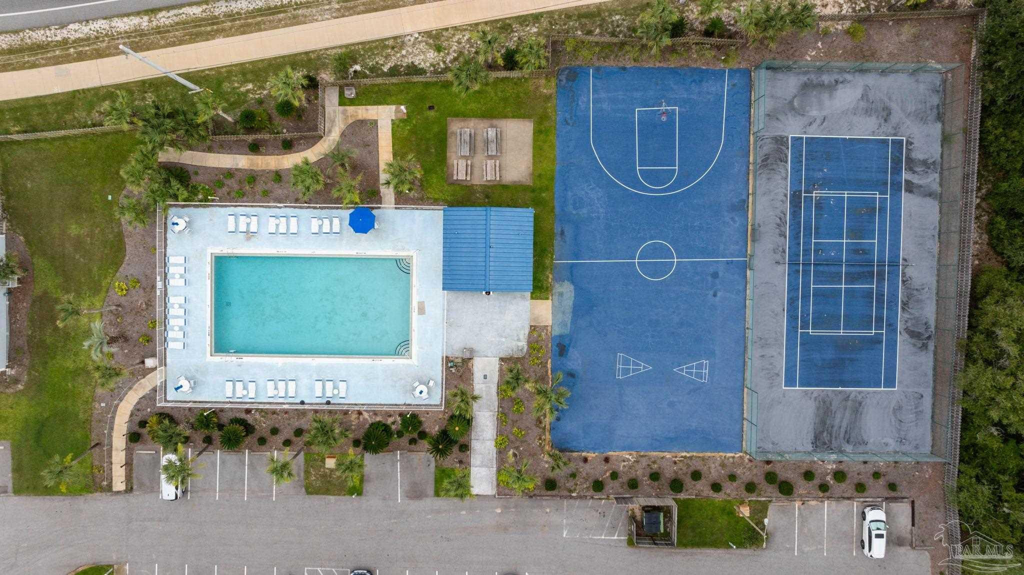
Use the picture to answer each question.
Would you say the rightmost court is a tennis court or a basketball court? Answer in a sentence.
I'd identify the rightmost court as a tennis court.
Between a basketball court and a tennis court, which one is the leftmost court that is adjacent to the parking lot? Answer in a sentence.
From above, the leftmost court that is adjacent to the parking lot can be identified as a basketball court.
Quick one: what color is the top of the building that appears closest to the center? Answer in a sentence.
The color of the roof on the building that appears closest to the center is blue.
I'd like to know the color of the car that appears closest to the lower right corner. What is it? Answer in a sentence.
The car that appears closest to the lower right corner is white.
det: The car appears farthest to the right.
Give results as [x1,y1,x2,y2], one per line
[859,507,889,559]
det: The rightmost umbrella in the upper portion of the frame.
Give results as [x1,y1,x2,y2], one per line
[348,207,375,234]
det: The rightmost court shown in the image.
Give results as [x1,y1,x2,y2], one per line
[745,69,944,454]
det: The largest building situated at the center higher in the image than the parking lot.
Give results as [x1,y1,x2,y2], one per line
[441,208,535,296]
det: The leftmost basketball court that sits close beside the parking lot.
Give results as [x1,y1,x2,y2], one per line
[550,66,751,453]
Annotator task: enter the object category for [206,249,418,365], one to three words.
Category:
swimming pool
